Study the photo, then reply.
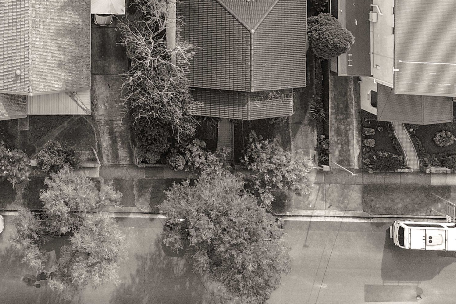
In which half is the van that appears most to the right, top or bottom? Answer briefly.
bottom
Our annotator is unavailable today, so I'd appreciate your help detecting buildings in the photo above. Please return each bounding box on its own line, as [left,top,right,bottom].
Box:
[355,0,456,125]
[169,0,309,121]
[0,0,93,120]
